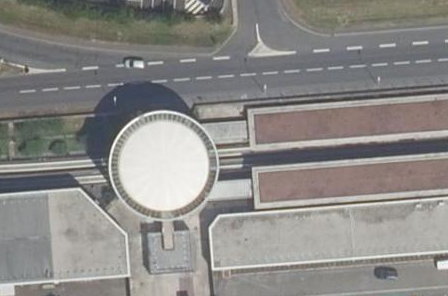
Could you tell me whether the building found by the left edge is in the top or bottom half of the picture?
bottom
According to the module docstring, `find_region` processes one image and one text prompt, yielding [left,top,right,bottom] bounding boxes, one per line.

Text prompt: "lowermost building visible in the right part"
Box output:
[211,198,448,275]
